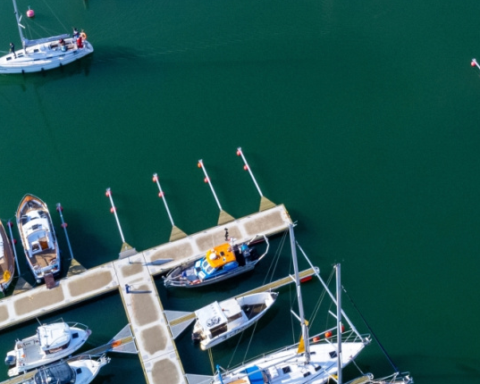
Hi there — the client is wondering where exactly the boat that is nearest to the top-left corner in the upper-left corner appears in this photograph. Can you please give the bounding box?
[0,0,94,74]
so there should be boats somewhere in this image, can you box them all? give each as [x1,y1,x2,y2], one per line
[183,291,279,357]
[0,0,94,74]
[19,196,71,300]
[160,230,275,291]
[5,322,105,379]
[0,221,16,298]
[216,222,373,384]
[32,353,124,384]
